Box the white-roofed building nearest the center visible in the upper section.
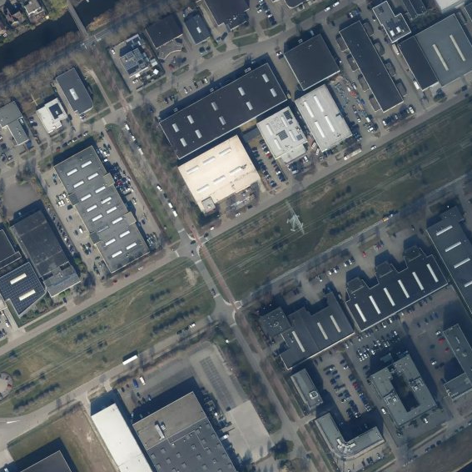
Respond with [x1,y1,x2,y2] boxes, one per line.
[177,135,260,214]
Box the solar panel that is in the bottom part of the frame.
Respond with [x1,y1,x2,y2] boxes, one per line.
[0,265,44,314]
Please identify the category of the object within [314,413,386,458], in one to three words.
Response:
building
